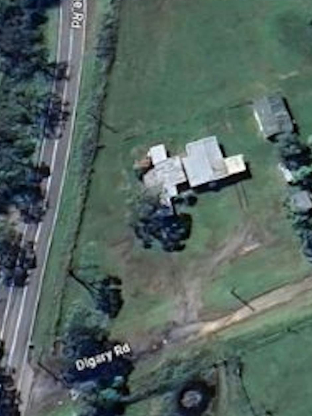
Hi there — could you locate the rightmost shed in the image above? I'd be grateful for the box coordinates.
[290,191,312,214]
